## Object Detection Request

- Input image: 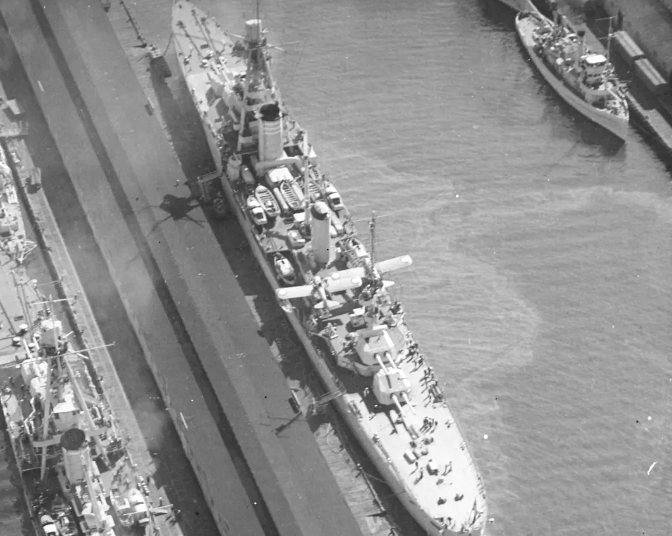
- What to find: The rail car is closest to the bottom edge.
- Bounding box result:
[633,58,669,100]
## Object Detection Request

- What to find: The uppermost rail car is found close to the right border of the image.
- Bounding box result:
[609,32,644,71]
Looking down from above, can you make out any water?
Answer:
Yes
